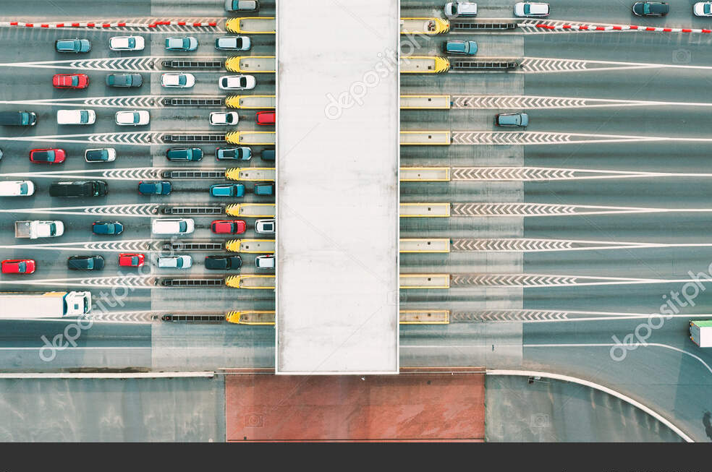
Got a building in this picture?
No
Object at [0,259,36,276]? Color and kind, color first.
red car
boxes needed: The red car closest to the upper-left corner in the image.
[52,72,89,90]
